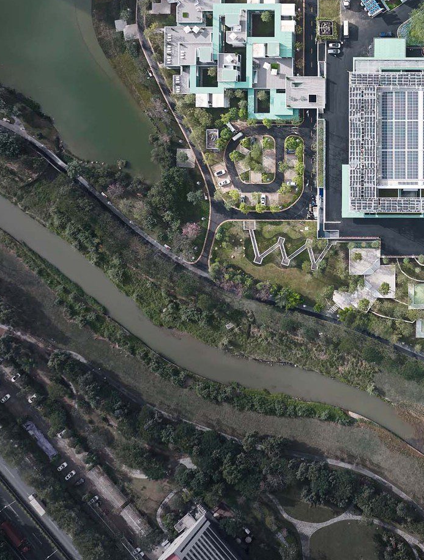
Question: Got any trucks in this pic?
Yes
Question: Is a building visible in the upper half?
Yes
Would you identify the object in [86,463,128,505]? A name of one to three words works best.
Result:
shed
